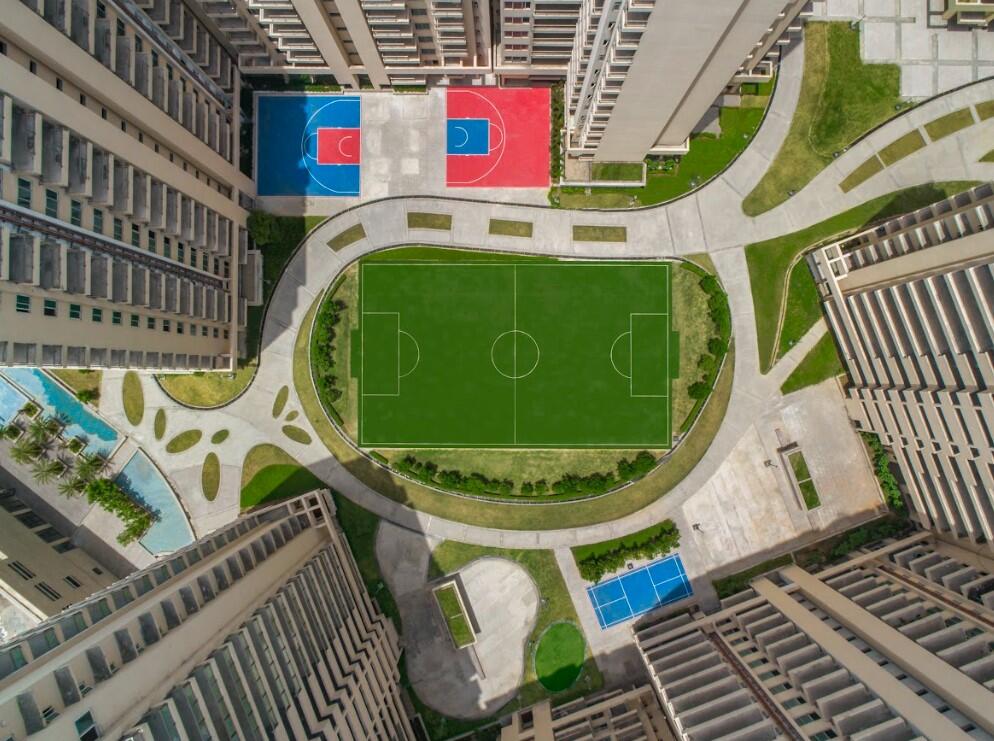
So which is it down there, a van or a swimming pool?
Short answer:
swimming pool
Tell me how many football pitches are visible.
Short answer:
one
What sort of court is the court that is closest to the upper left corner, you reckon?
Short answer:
basketball court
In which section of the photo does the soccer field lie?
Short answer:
center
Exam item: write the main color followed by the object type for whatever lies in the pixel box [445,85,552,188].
red basketball court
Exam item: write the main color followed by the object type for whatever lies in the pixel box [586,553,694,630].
blue sports court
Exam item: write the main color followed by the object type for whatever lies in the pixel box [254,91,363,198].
blue basketball court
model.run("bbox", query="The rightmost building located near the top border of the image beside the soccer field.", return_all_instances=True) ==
[559,0,817,188]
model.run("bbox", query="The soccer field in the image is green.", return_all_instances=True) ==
[349,262,679,452]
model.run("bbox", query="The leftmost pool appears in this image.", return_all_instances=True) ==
[0,375,29,426]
